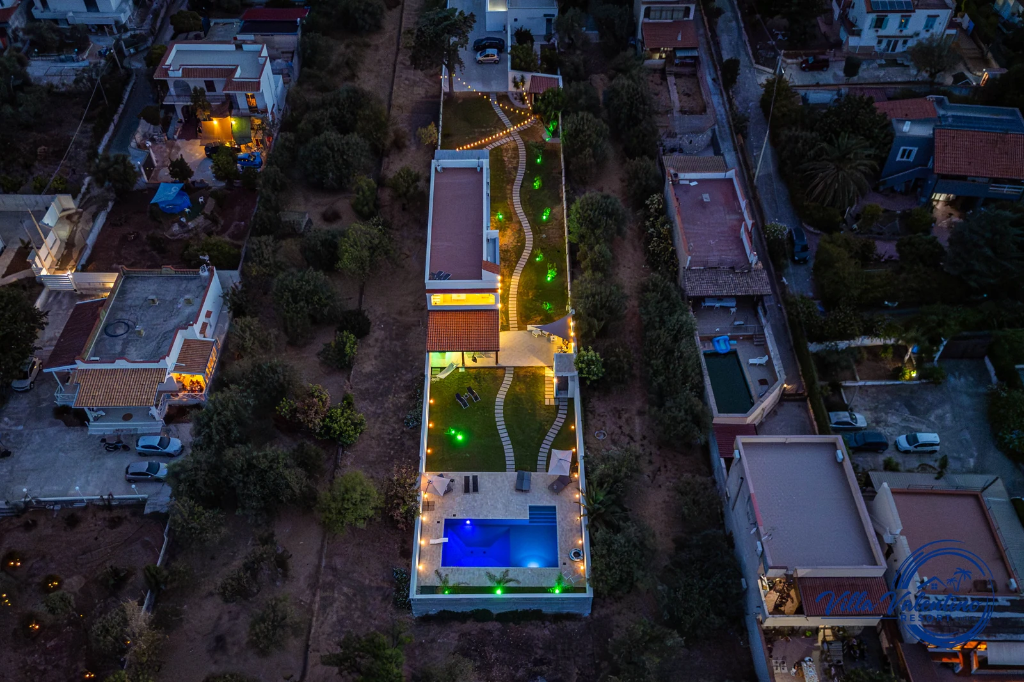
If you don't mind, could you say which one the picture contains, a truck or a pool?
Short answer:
pool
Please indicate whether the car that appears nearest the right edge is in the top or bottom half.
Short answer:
bottom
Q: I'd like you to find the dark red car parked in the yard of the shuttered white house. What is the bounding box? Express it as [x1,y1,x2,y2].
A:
[799,57,831,73]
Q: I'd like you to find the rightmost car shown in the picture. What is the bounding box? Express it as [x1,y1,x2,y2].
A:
[894,433,942,456]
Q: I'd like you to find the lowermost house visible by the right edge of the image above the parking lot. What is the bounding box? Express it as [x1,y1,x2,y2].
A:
[863,95,1024,216]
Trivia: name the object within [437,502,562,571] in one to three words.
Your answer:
swimming pool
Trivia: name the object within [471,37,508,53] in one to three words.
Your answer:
car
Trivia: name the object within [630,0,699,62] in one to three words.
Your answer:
house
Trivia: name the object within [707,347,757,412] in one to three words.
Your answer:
swimming pool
